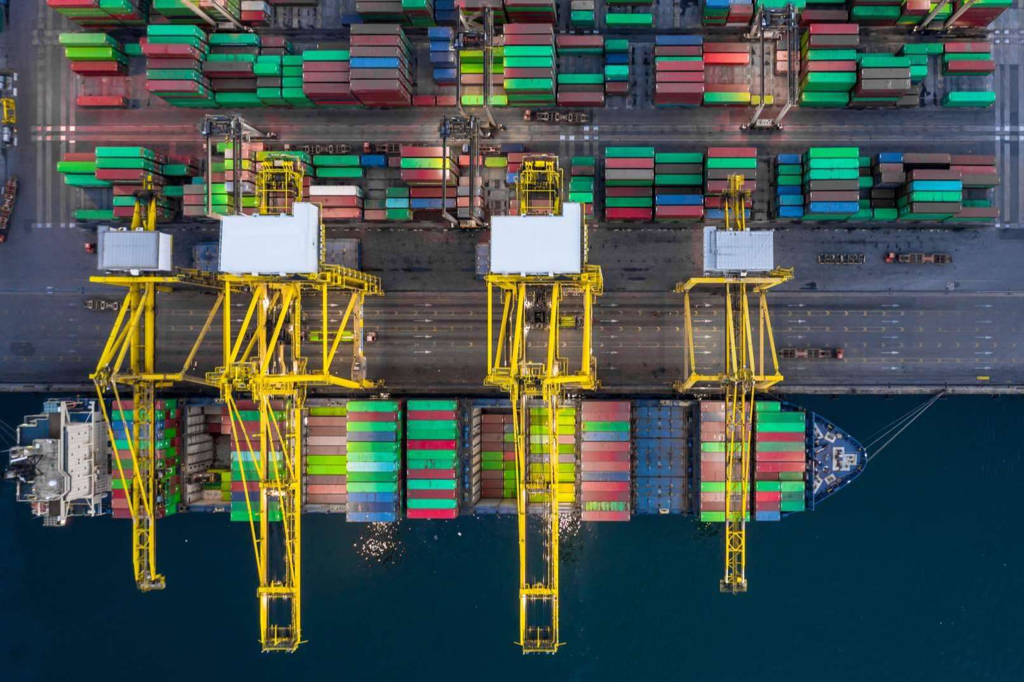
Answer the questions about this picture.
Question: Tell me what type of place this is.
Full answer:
What you see here is a port.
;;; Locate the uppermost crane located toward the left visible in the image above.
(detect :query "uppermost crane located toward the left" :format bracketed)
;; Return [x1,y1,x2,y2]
[181,0,253,28]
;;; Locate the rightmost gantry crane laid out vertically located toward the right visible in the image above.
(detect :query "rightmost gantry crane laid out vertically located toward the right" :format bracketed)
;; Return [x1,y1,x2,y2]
[741,6,801,130]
